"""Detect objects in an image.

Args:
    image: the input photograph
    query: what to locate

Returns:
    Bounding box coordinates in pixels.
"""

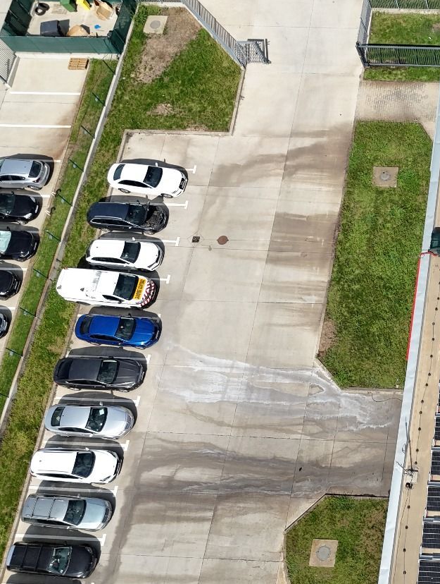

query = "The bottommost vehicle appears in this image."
[7,538,101,584]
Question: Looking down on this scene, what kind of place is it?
parking lot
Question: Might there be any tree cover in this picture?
No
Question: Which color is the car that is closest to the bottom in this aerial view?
black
